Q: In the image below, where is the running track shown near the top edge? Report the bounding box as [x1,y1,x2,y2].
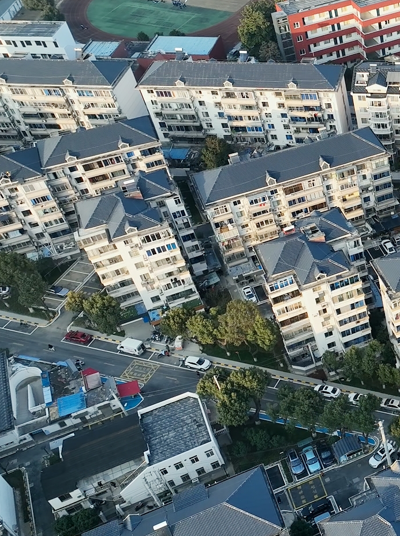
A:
[62,0,250,65]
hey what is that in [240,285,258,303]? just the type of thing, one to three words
car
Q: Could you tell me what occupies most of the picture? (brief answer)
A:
buildings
